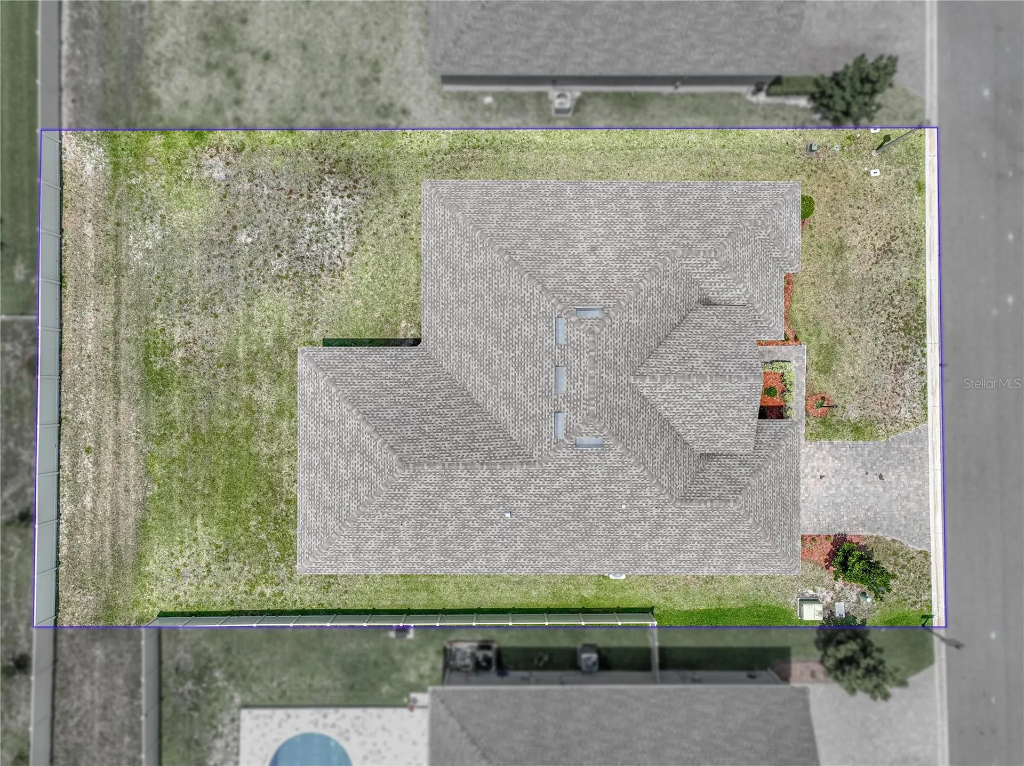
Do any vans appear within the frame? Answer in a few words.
No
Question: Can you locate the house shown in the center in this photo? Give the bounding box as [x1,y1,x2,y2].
[296,180,802,575]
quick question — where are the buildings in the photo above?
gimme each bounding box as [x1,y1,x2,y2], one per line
[427,671,820,766]
[296,180,802,575]
[428,0,805,83]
